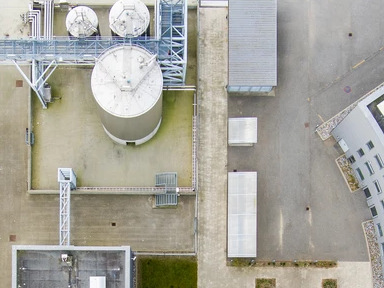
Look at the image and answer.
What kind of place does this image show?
industrial area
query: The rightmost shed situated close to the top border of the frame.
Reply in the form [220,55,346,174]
[226,0,278,98]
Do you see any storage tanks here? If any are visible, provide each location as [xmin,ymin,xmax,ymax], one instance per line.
[66,6,104,44]
[91,42,164,147]
[109,0,151,44]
